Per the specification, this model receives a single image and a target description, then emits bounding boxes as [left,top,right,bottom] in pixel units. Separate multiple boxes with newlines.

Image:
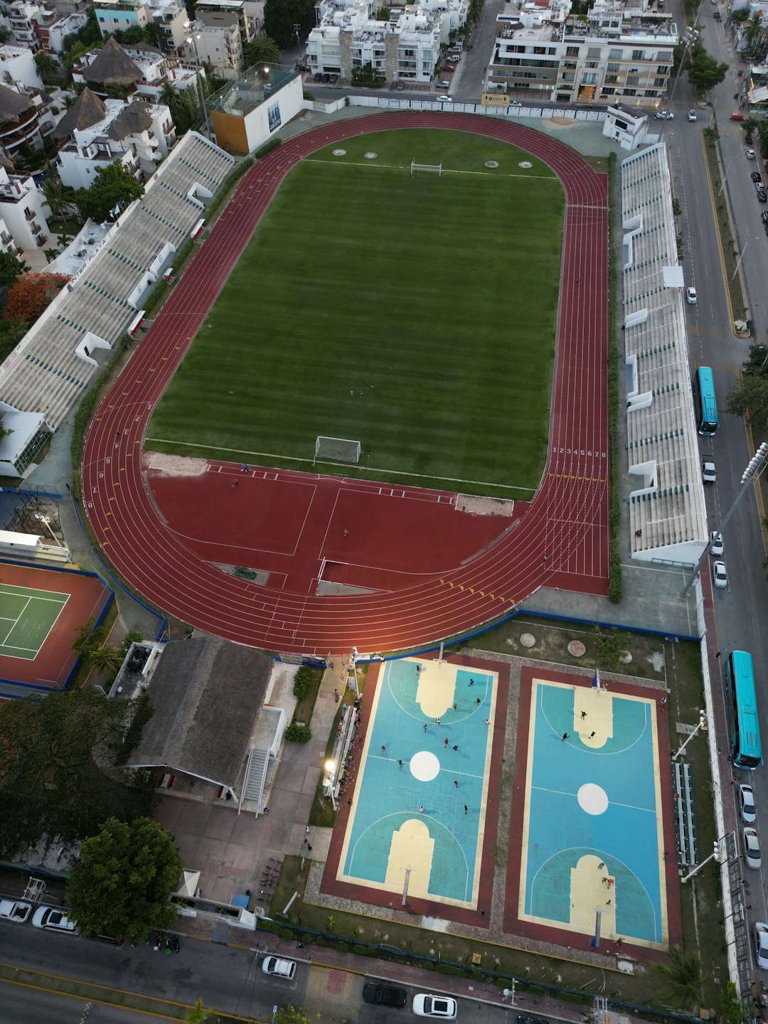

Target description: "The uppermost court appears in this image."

[0,565,106,683]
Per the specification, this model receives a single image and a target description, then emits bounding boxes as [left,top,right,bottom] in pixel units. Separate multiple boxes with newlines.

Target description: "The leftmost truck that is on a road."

[0,898,35,925]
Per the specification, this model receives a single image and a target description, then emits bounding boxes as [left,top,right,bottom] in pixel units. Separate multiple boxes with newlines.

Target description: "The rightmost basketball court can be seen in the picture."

[499,667,684,971]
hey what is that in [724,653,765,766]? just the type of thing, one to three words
bus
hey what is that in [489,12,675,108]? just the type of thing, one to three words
building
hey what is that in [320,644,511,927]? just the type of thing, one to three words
basketball court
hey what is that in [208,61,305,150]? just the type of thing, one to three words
building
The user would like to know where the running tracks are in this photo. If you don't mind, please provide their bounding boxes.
[79,112,610,659]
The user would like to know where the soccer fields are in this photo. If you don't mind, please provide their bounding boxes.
[143,128,566,502]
